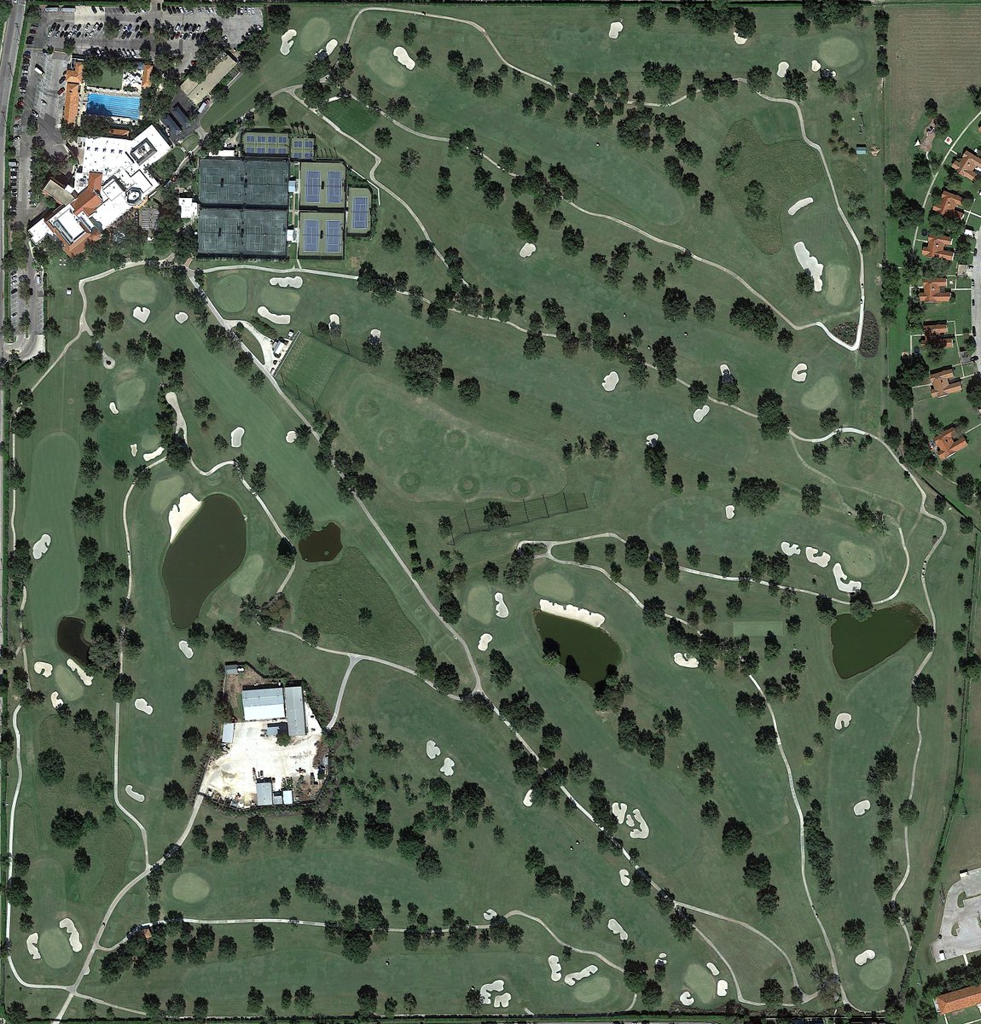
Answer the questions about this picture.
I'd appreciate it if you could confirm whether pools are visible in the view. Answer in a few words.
Yes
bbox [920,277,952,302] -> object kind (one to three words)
house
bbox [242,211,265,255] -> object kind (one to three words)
tennis court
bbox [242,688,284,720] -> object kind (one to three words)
shed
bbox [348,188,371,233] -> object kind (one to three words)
tennis court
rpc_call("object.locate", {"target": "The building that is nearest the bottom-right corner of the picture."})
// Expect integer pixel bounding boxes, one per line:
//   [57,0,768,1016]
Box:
[934,985,981,1015]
